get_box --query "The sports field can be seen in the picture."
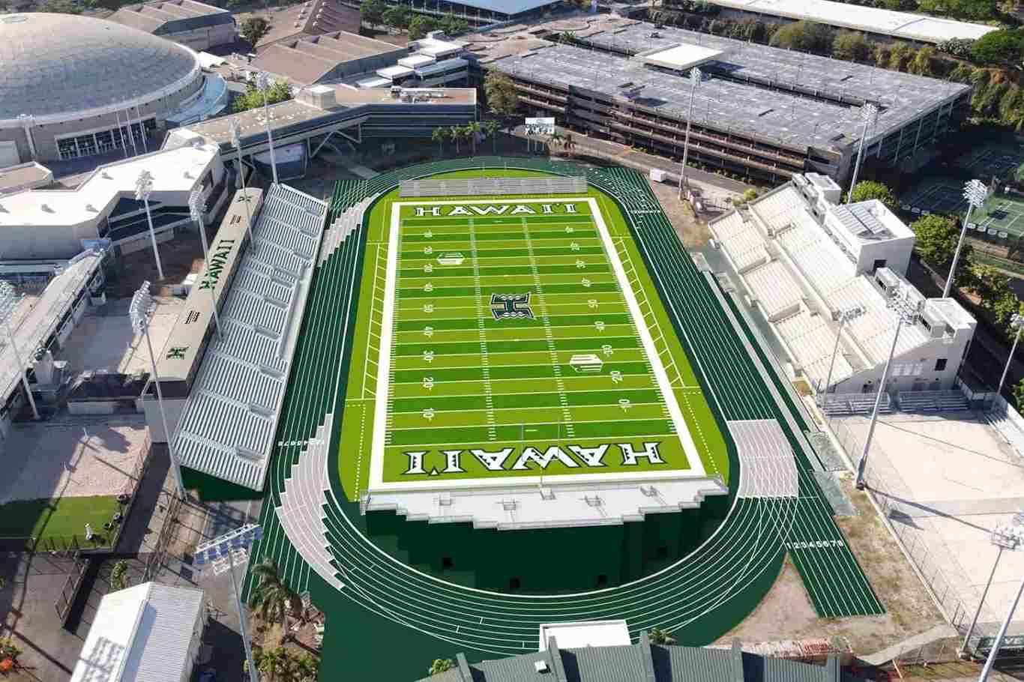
[338,168,726,501]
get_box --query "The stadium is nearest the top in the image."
[0,12,257,167]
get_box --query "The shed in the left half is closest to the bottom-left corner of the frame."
[70,583,207,682]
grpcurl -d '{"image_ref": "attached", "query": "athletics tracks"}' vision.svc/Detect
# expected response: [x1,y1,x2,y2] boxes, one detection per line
[225,154,887,682]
